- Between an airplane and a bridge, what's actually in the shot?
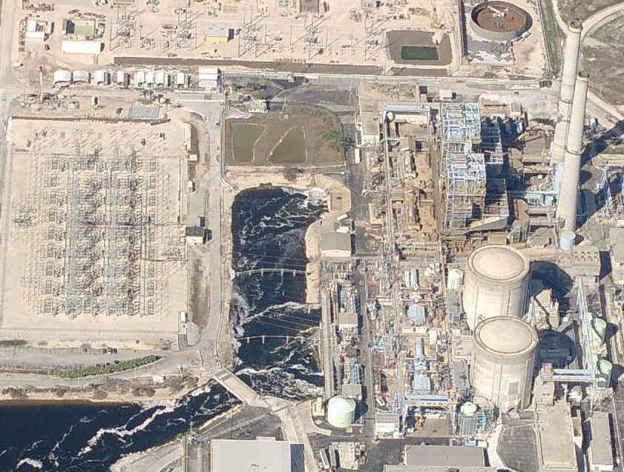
bridge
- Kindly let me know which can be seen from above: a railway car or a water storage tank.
water storage tank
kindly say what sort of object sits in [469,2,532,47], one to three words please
storage tank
